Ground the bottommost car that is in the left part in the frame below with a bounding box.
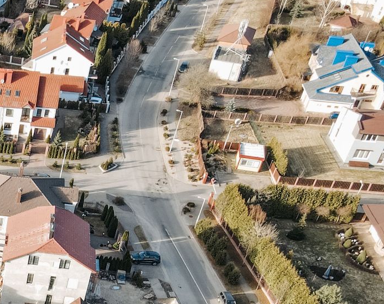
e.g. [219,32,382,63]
[131,249,163,265]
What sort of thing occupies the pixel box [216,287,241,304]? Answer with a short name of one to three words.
car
